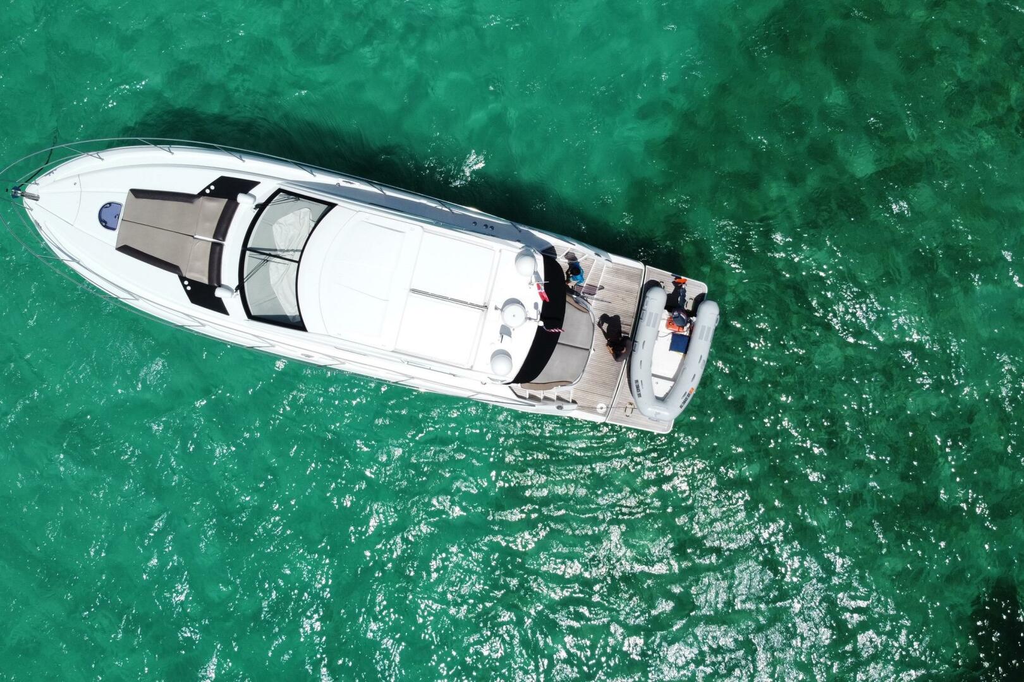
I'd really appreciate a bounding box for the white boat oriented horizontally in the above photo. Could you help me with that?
[0,137,707,434]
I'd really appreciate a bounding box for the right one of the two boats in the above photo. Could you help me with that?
[631,278,719,421]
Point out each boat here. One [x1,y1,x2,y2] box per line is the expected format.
[631,278,719,421]
[0,137,707,434]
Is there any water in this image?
Yes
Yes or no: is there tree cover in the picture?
No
